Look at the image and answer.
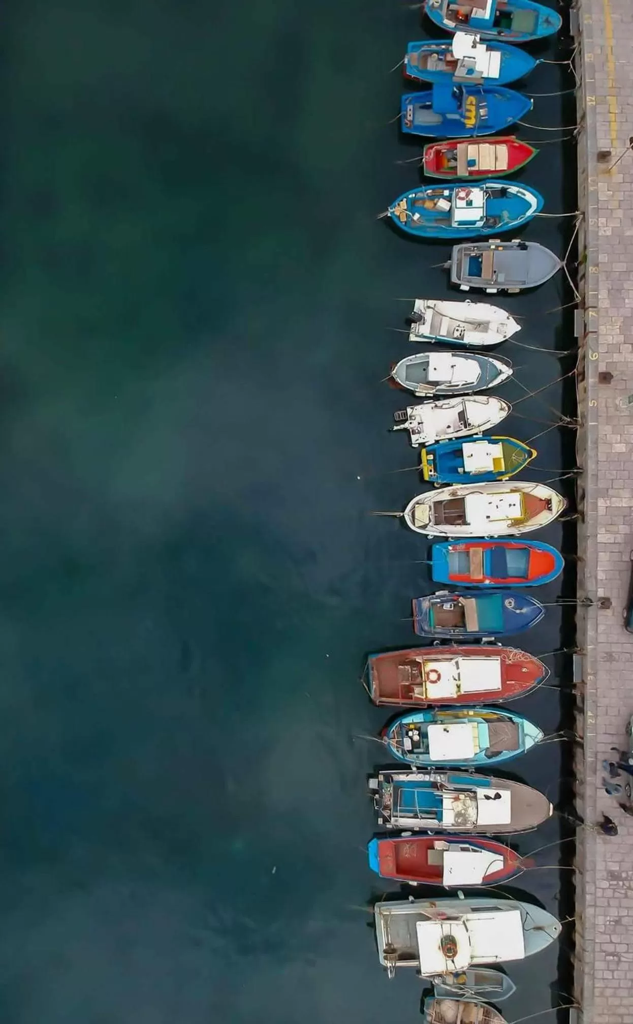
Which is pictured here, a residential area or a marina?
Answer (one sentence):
It's a marina.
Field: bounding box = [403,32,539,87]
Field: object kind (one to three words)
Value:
boat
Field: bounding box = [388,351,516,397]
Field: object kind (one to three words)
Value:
boat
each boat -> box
[403,32,539,87]
[423,0,564,45]
[422,992,508,1024]
[401,82,534,142]
[398,481,569,541]
[368,831,535,891]
[411,589,547,646]
[420,436,539,489]
[409,297,523,348]
[388,179,547,240]
[432,538,567,587]
[375,885,565,979]
[381,705,547,770]
[369,765,554,837]
[434,966,518,1002]
[388,351,516,397]
[388,395,514,448]
[423,135,541,181]
[442,238,564,293]
[368,645,550,708]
